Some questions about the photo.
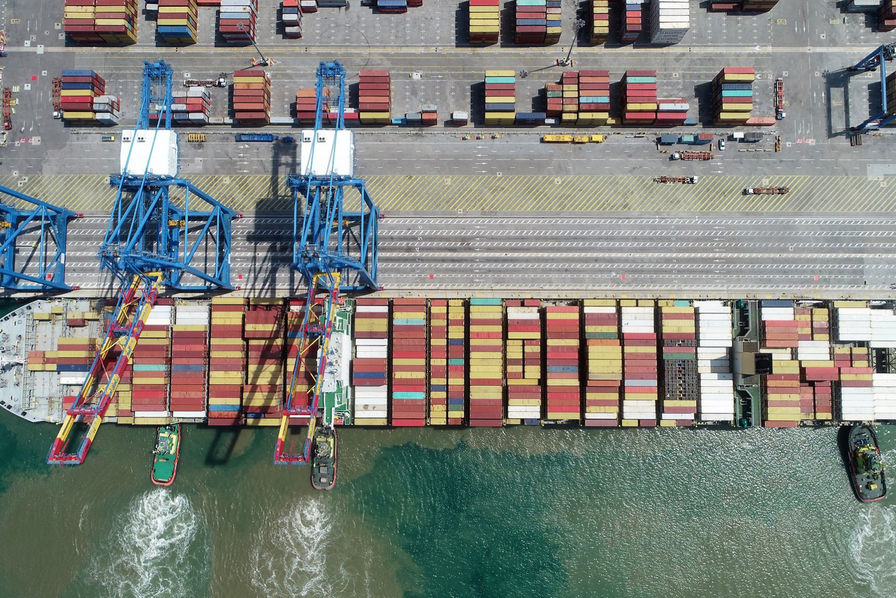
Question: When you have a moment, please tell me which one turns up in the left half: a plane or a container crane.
container crane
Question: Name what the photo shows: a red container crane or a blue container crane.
blue container crane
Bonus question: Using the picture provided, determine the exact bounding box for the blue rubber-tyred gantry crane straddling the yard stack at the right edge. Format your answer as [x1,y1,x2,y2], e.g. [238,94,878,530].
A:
[846,45,896,133]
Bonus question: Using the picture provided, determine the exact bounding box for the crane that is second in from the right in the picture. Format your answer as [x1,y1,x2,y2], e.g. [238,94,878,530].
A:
[273,60,384,465]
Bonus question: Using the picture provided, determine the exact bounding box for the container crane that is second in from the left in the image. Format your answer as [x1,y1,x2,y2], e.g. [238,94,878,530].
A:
[46,59,244,465]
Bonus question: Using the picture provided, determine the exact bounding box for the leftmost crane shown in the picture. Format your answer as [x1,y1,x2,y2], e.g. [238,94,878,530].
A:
[0,181,87,290]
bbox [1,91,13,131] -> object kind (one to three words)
vehicle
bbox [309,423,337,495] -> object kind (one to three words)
boat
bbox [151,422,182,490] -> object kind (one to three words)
boat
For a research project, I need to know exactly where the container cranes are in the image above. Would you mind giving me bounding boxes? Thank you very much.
[46,59,244,465]
[0,181,87,290]
[273,60,384,465]
[846,45,896,133]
